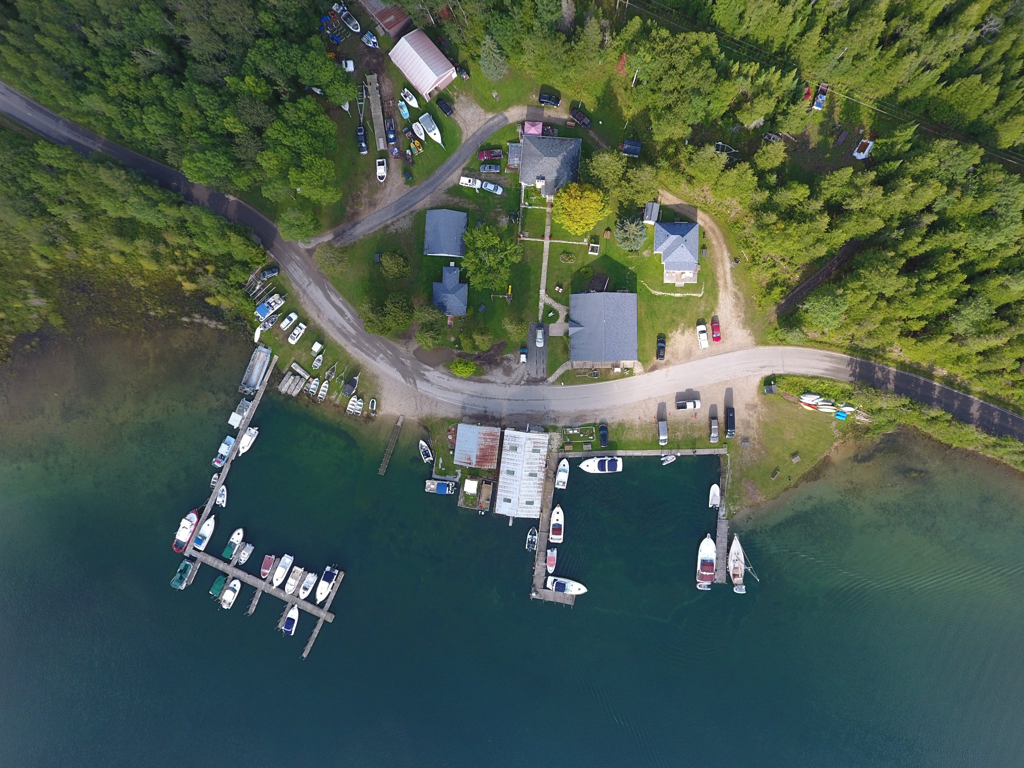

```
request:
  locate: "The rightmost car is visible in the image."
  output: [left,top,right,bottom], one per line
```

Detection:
[854,138,872,161]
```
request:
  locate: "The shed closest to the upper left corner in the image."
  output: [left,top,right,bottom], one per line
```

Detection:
[364,0,412,36]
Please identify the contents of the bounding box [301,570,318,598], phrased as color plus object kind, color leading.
white boat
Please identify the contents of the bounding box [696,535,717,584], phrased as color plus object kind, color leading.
white boat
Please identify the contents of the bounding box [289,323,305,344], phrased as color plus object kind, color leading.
white car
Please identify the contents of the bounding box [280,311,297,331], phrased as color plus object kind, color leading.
white car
